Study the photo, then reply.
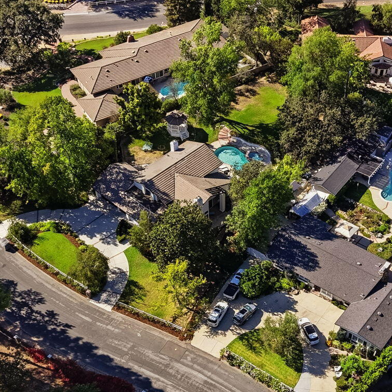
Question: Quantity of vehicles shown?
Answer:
4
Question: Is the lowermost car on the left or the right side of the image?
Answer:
right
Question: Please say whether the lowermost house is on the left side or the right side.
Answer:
right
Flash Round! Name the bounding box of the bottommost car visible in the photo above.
[296,314,323,347]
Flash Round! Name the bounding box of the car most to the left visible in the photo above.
[204,297,229,329]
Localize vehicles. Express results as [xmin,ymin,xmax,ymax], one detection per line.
[296,314,323,347]
[221,265,246,300]
[204,297,229,329]
[229,297,260,329]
